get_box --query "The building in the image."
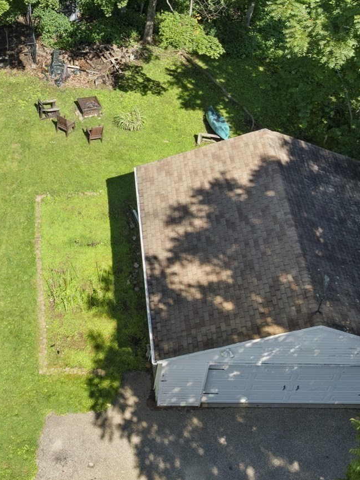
[132,128,360,408]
